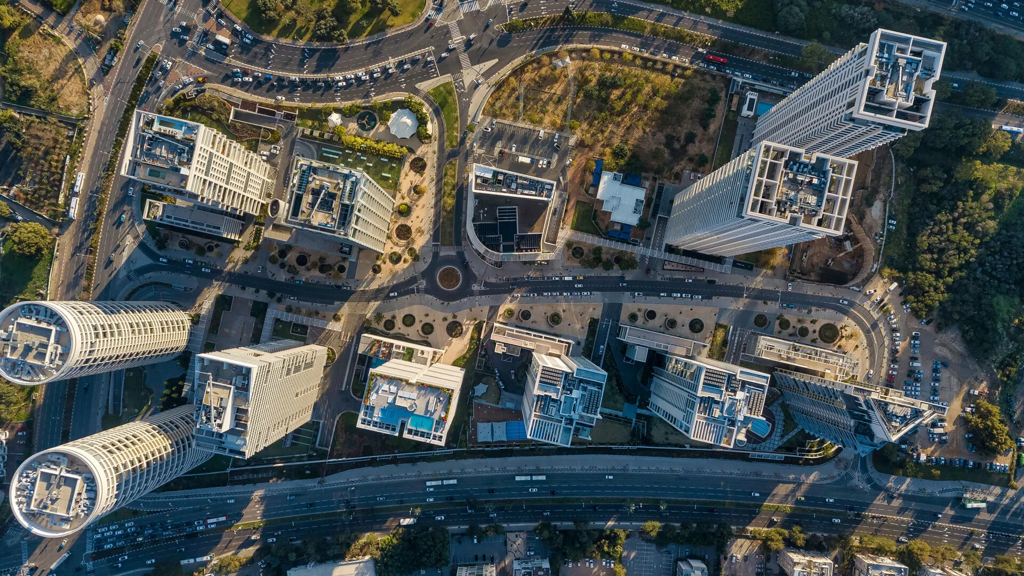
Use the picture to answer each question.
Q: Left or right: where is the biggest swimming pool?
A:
right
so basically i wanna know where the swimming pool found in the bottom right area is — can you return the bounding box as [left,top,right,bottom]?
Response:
[743,404,781,442]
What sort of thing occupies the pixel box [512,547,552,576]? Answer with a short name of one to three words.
house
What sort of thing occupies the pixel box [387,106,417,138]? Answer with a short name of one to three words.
tent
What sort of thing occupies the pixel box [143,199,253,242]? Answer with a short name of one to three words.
building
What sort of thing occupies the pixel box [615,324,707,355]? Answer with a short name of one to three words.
building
